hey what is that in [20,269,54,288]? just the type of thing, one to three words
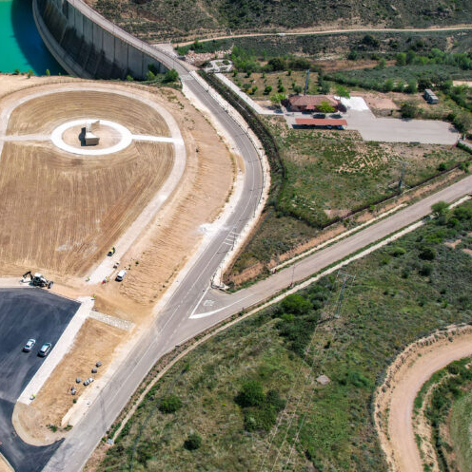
work vehicle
